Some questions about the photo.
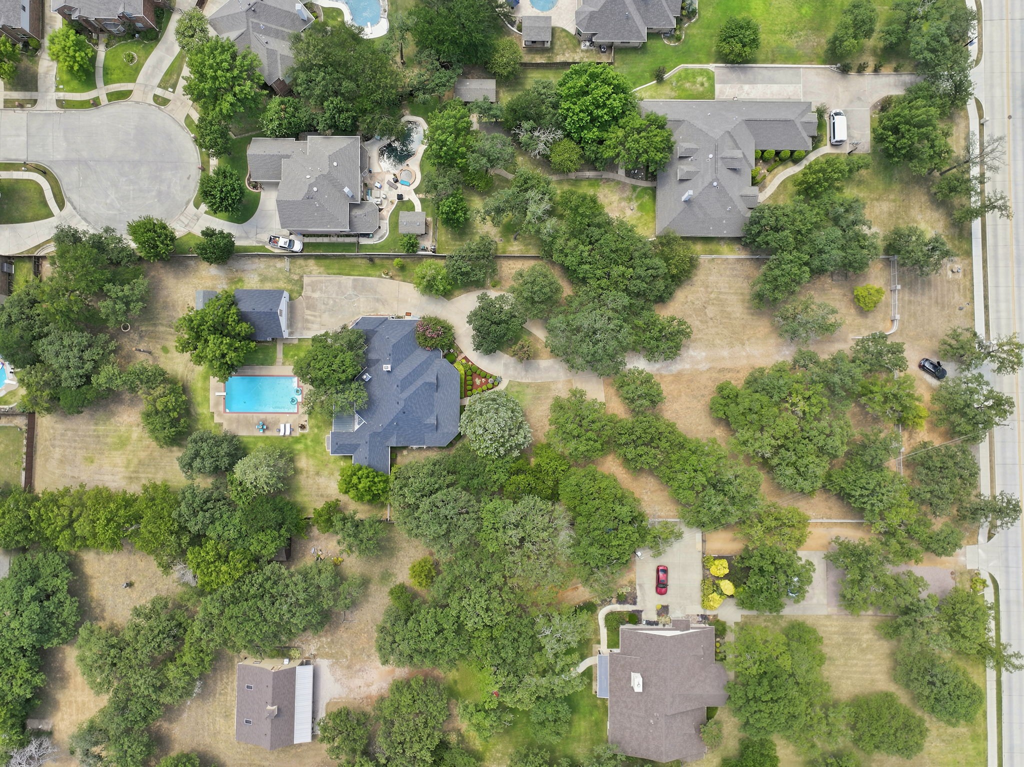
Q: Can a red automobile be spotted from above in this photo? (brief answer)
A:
Yes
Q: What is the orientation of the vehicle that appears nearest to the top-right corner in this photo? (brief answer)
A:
up and down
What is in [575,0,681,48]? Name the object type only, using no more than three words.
house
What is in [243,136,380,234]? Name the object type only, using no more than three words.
house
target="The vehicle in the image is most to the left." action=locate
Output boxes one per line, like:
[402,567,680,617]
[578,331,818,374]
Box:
[265,234,305,253]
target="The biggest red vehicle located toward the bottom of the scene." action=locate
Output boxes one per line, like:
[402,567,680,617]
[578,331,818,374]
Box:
[654,564,670,595]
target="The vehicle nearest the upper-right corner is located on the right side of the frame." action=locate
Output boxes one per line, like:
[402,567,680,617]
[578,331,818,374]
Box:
[829,108,849,147]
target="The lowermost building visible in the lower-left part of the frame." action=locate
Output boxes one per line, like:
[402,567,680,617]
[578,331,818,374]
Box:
[237,658,318,750]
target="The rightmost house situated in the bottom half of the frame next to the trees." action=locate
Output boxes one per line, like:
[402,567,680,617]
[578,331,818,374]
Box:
[598,616,729,767]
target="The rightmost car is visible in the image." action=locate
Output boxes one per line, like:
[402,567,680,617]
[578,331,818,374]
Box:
[915,357,949,378]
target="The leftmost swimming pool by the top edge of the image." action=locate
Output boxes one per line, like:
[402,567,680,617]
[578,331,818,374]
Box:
[311,0,389,38]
